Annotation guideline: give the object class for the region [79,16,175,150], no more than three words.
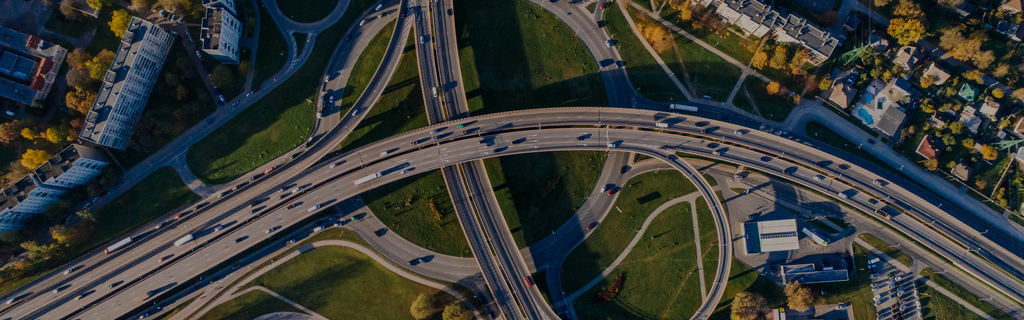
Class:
building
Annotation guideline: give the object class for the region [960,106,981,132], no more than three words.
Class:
house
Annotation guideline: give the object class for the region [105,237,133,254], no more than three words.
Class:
vehicle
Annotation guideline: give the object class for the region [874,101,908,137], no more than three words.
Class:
building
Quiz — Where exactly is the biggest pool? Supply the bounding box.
[857,107,874,126]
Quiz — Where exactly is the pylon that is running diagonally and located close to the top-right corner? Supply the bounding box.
[837,43,871,67]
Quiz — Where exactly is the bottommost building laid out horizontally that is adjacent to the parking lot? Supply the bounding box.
[779,264,848,283]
